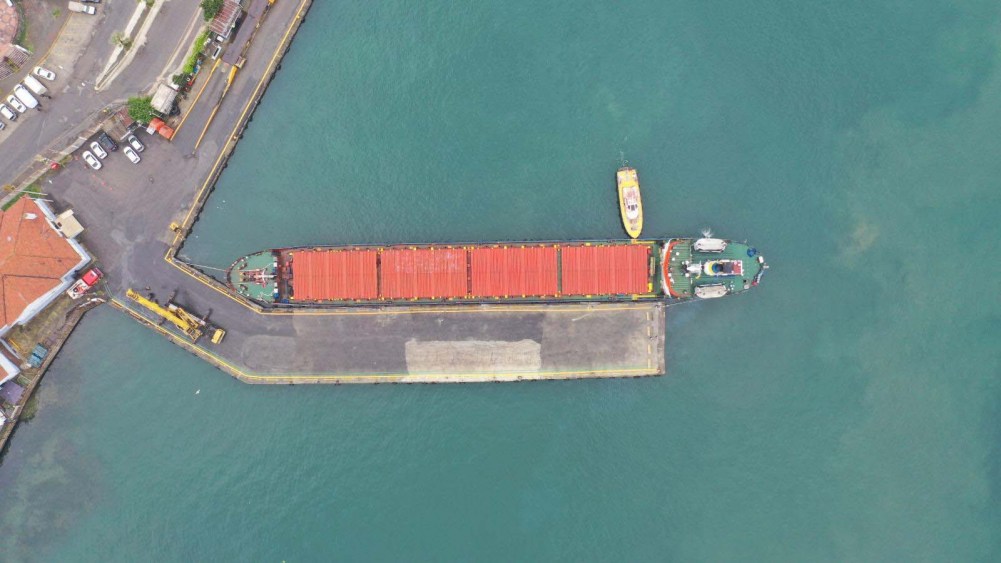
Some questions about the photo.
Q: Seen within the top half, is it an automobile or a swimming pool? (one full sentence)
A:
What appears within the top half is an automobile.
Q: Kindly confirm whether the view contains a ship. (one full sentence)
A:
Yes, I can see a ship in this picture.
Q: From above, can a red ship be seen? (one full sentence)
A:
Yes, the photo shows a red ship.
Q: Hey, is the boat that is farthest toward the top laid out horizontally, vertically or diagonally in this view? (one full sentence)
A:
From this overhead view, the boat that is farthest toward the top appears to run vertically.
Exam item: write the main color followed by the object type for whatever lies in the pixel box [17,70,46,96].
white truck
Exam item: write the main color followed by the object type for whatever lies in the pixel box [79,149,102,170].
white car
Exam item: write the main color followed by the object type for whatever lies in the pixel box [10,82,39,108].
white vehicle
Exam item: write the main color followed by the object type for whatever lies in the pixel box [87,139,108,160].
white car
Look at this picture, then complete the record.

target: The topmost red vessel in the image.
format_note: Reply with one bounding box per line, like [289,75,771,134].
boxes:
[228,239,770,306]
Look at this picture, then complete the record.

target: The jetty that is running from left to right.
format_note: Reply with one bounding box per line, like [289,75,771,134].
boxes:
[106,256,666,385]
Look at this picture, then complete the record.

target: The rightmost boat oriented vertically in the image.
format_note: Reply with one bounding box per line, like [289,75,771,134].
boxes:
[616,166,642,238]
